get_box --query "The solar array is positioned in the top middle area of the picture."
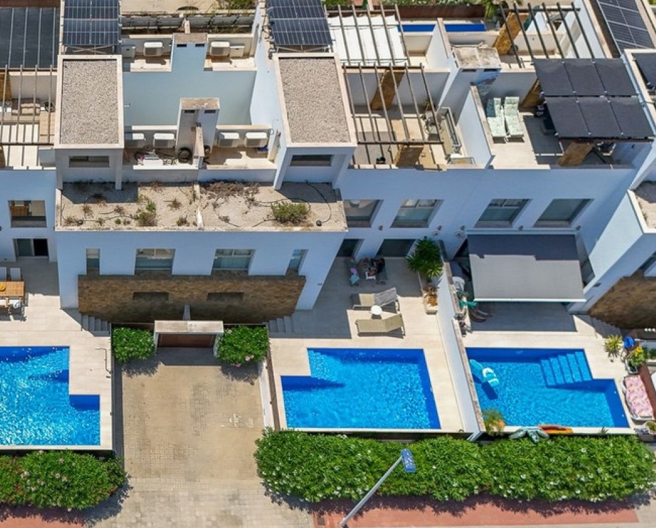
[266,0,337,54]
